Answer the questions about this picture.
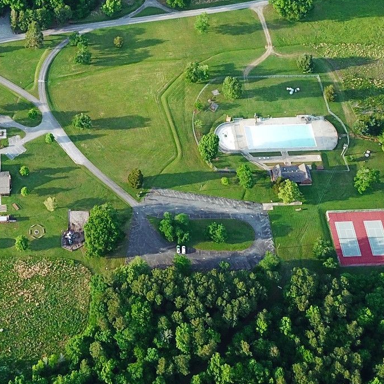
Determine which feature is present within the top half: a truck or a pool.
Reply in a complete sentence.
There is a pool within the top half.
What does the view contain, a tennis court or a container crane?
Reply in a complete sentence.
Visible in the photo is a tennis court.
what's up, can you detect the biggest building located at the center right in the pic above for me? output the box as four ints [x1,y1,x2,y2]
[272,162,314,186]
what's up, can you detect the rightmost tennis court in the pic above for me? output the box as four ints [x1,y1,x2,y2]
[364,220,384,256]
